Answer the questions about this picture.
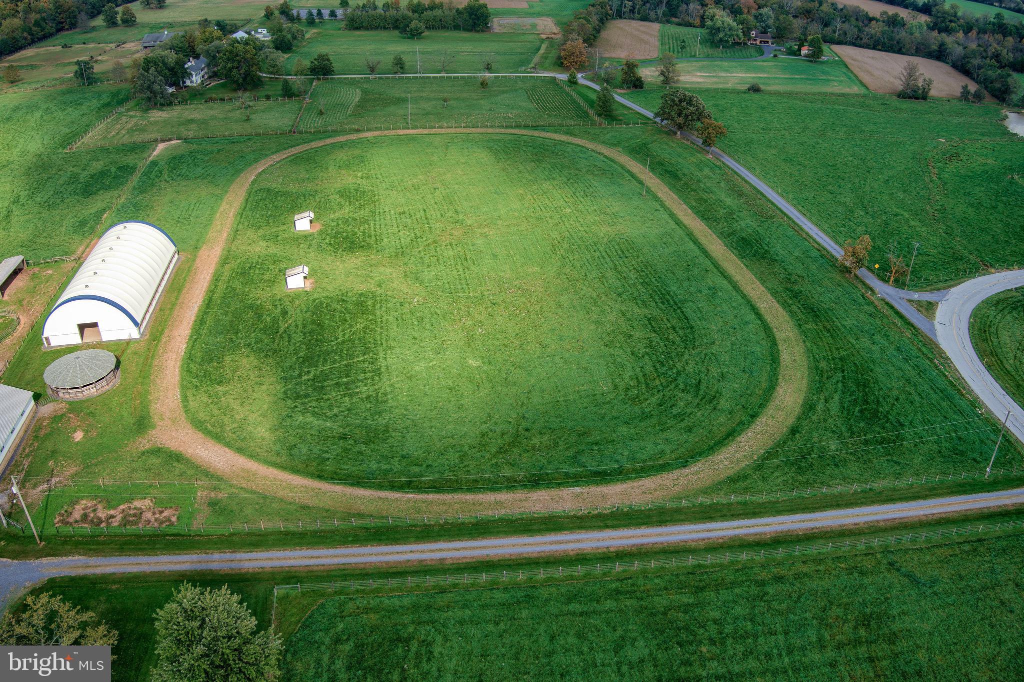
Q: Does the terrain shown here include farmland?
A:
Yes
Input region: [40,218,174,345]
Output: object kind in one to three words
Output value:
barn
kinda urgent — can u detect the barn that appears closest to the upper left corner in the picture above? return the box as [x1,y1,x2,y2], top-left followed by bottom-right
[138,25,188,51]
